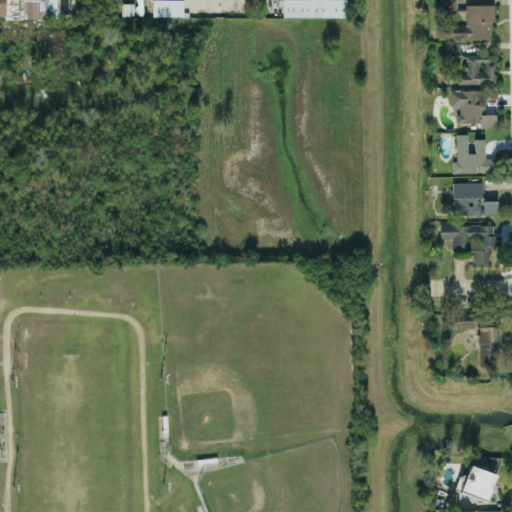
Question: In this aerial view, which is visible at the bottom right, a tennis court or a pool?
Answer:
pool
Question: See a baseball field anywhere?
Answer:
Yes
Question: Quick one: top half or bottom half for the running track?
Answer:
bottom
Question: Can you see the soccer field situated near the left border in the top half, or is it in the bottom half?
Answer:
bottom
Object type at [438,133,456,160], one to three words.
swimming pool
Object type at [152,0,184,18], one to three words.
shed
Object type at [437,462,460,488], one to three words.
swimming pool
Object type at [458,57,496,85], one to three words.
house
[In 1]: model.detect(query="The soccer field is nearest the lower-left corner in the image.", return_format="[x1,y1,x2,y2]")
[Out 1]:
[22,341,125,512]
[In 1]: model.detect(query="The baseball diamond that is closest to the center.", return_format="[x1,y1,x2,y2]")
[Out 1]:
[166,266,352,455]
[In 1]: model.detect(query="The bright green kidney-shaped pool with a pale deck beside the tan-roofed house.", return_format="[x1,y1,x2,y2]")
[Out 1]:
[434,95,456,131]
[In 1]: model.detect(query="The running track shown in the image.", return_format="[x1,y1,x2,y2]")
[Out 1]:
[2,306,152,512]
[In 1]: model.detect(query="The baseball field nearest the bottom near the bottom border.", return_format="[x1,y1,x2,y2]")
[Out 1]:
[214,433,340,512]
